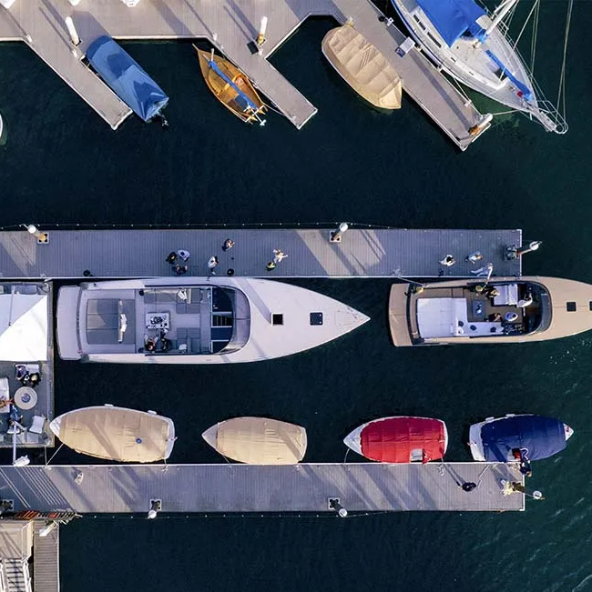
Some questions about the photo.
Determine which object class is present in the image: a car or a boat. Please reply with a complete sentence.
I can see a boat in this picture.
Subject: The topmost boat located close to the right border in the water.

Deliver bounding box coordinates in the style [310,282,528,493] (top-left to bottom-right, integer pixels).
[373,0,576,130]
